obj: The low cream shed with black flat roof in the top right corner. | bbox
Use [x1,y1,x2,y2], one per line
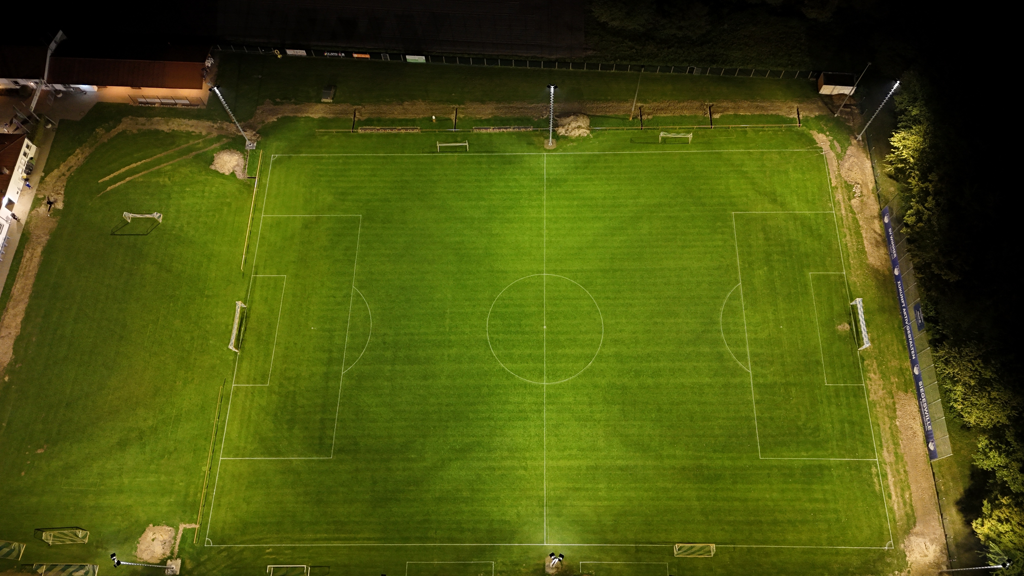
[818,70,856,95]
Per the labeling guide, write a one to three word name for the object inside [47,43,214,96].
building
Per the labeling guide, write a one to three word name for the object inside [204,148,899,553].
soccer field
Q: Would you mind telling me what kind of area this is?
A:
sports ground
